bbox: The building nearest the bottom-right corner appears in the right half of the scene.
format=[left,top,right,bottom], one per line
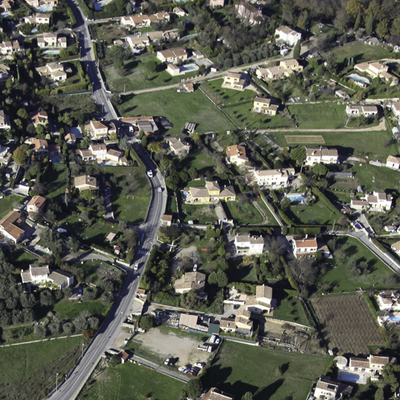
[346,353,388,377]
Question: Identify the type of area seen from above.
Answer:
residential area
